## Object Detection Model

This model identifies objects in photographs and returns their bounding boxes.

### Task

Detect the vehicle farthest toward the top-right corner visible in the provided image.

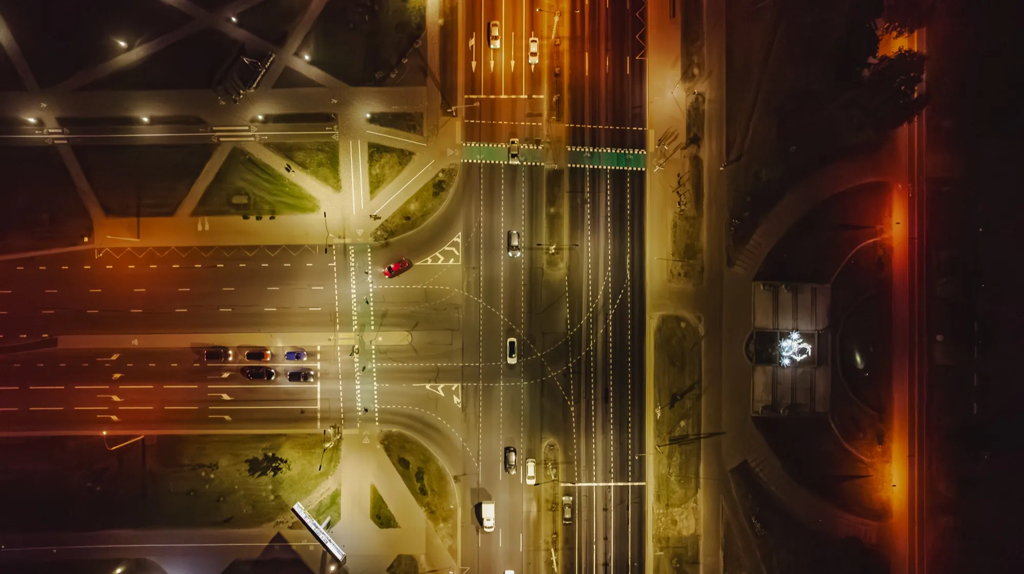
[527,35,540,63]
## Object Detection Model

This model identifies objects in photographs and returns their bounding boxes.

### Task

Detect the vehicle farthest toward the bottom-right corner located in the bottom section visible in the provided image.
[561,496,574,525]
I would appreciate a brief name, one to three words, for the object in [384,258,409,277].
car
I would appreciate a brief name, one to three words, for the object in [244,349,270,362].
vehicle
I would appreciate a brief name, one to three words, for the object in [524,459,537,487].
vehicle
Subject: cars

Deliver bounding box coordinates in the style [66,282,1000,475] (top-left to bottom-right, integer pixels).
[384,258,409,277]
[504,447,517,475]
[246,368,274,381]
[524,459,537,487]
[487,19,500,47]
[506,337,518,365]
[203,348,232,361]
[284,350,306,361]
[508,137,520,165]
[244,349,270,362]
[287,370,313,383]
[561,496,574,525]
[507,230,520,258]
[527,35,540,63]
